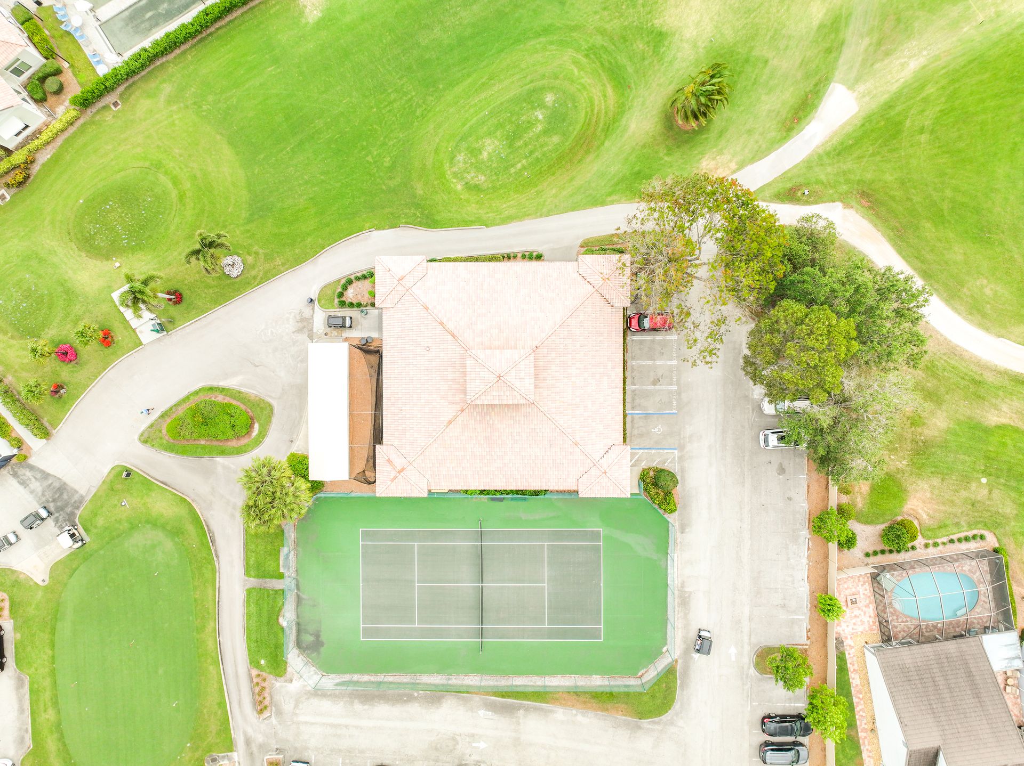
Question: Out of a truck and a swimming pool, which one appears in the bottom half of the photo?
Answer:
swimming pool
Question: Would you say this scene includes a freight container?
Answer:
No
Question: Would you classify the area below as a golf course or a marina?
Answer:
golf course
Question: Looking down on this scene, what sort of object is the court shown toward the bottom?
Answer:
tennis court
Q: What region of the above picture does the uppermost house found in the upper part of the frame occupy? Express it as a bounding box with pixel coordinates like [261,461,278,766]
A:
[0,12,46,88]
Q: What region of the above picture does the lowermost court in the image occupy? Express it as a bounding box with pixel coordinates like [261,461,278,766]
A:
[295,489,667,677]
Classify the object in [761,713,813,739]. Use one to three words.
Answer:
car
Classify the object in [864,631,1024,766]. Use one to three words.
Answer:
building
